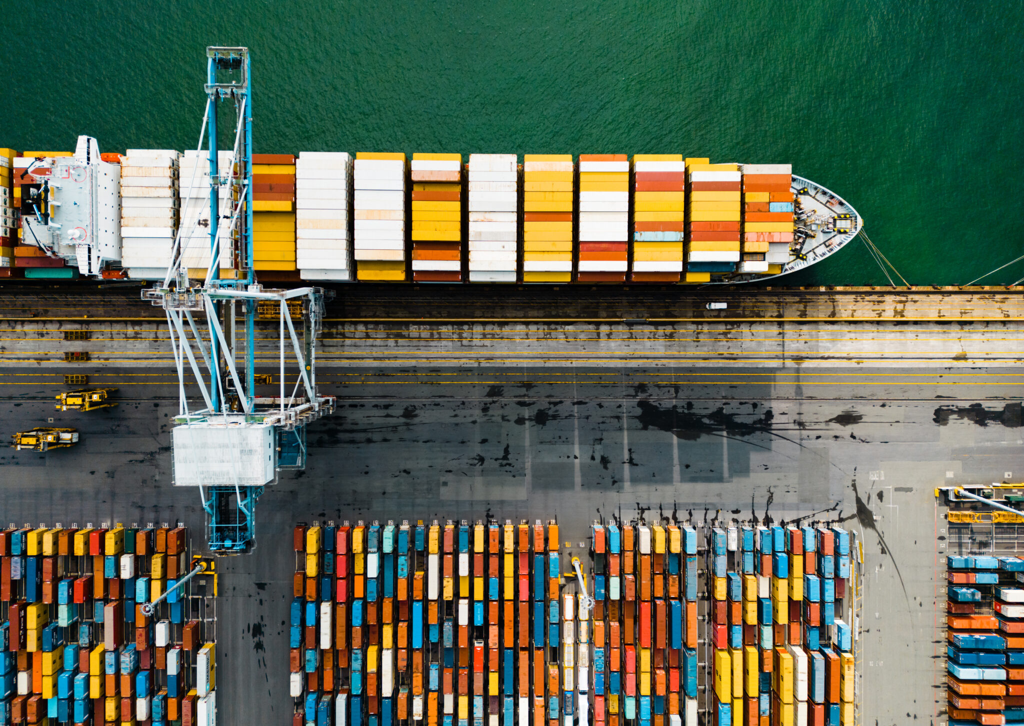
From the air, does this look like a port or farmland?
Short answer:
port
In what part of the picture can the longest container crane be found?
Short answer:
left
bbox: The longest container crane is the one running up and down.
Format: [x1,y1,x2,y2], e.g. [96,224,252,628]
[143,45,342,558]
